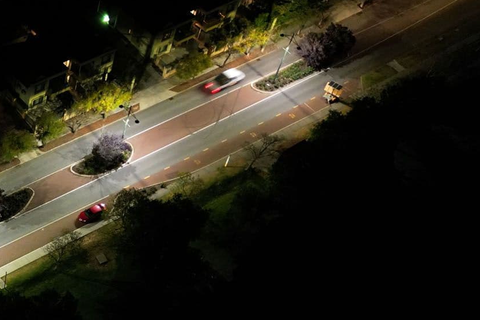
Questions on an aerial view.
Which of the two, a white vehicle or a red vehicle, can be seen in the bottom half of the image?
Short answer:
red vehicle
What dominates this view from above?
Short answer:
trees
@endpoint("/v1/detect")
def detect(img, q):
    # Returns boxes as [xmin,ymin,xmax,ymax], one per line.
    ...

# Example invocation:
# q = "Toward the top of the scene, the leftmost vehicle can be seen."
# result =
[208,71,242,92]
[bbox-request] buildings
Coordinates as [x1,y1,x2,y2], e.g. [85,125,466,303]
[115,0,246,58]
[0,0,133,110]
